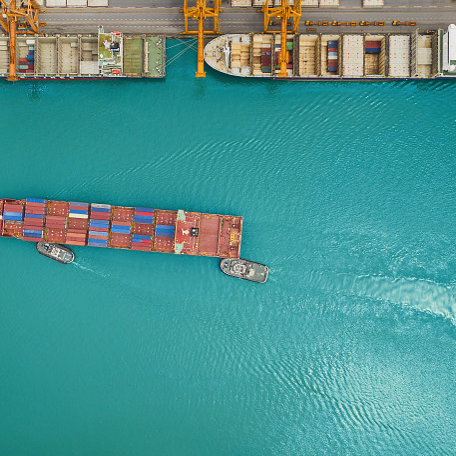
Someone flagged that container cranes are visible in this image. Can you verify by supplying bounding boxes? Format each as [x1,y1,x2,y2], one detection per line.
[253,0,305,80]
[175,0,223,80]
[0,0,45,80]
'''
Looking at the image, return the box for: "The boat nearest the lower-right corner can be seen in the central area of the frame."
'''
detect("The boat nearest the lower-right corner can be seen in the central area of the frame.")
[219,258,269,283]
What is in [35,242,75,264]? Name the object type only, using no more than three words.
boat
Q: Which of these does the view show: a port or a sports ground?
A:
port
